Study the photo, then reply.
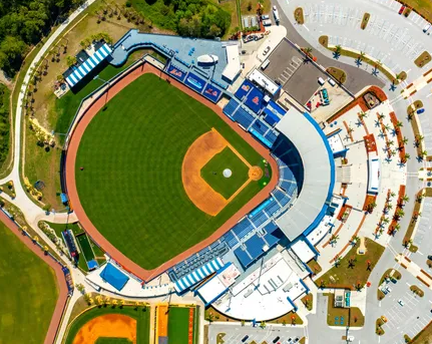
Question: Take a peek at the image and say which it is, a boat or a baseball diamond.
baseball diamond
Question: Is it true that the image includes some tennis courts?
No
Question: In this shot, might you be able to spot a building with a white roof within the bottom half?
Yes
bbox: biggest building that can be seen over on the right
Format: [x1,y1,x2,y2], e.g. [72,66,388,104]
[211,248,313,321]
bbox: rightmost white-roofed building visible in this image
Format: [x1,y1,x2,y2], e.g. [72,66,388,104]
[366,158,379,194]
